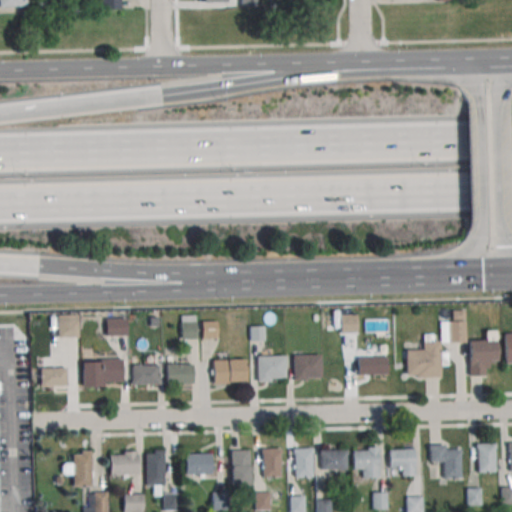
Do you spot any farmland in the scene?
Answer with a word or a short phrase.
No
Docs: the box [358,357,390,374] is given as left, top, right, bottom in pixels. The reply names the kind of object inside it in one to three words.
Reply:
house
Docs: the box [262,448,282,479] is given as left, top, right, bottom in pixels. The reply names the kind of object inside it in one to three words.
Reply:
house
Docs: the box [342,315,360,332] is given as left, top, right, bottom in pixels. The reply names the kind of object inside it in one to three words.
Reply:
building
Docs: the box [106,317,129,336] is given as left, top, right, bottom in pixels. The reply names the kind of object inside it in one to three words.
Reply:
building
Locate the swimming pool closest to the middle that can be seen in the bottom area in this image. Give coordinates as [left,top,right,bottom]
[263,312,278,326]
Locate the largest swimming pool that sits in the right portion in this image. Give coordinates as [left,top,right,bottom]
[364,318,390,338]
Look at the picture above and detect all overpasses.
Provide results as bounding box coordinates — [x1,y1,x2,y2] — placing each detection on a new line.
[420,74,512,260]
